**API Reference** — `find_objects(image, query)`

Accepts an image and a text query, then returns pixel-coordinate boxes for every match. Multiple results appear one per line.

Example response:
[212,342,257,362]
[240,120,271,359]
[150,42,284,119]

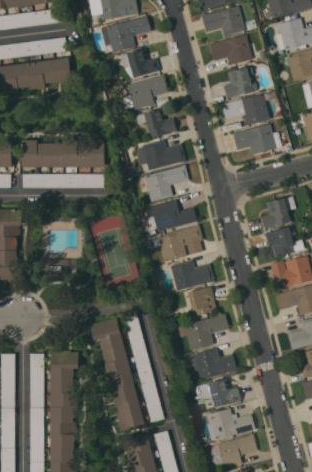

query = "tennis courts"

[91,216,138,288]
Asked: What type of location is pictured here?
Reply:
residential area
